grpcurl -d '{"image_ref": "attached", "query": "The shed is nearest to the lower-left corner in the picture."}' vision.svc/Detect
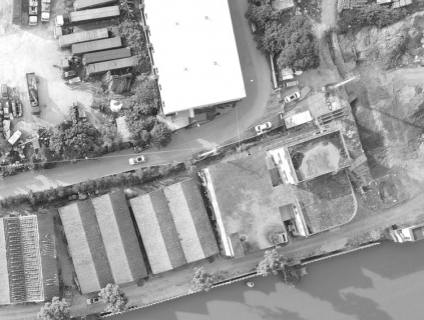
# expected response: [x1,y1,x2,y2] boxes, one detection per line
[0,215,60,305]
